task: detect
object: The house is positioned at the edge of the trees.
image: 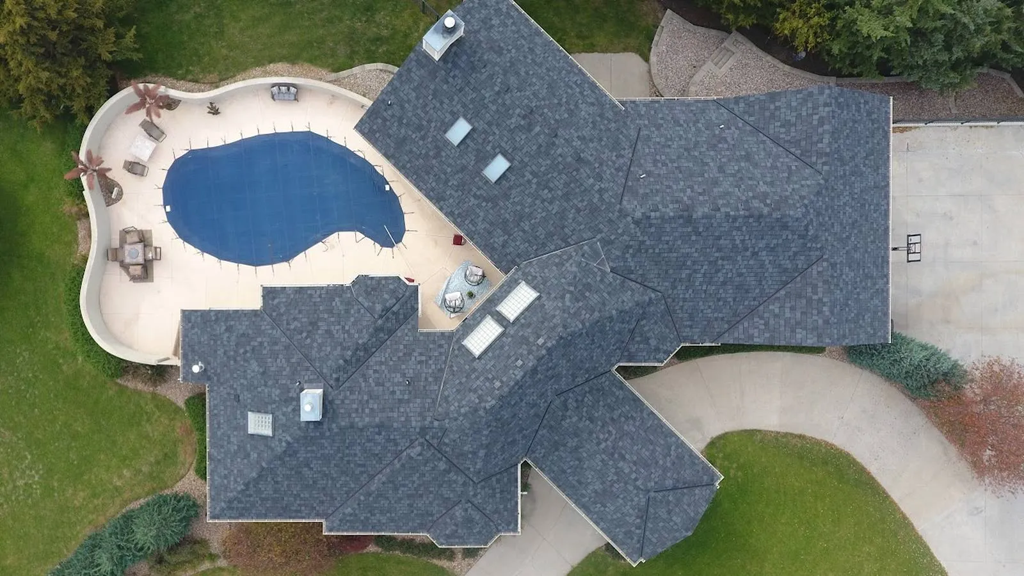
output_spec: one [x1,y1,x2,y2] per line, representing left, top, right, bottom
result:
[179,0,894,567]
